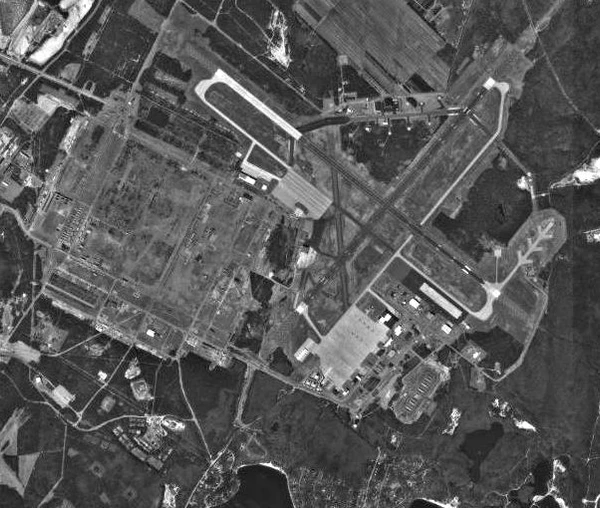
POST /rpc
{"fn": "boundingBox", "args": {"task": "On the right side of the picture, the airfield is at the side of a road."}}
[195,70,553,390]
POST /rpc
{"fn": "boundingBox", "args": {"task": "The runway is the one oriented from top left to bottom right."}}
[215,70,486,285]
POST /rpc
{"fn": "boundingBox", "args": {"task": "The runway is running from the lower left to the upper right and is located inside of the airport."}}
[296,78,496,304]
